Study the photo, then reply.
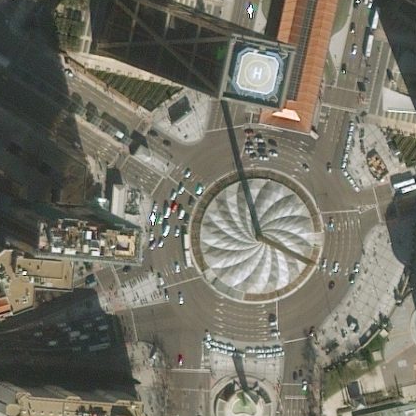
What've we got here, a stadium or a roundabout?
roundabout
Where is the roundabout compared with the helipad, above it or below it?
below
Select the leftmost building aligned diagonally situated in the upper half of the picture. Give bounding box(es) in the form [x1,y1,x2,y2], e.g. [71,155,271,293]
[0,108,85,205]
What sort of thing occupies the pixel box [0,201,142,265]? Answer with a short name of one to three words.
building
